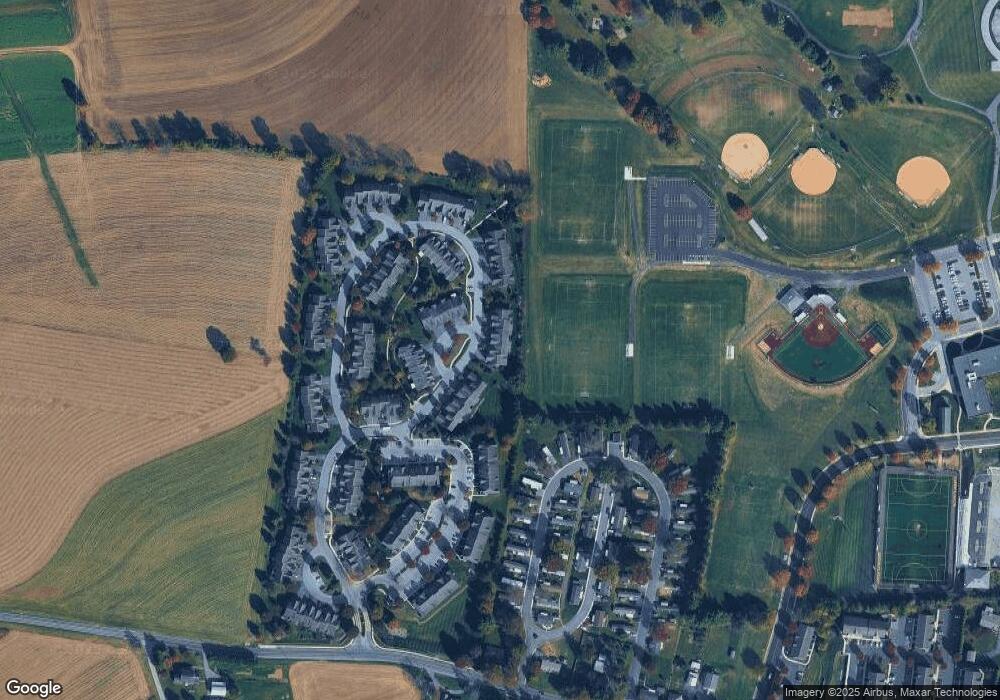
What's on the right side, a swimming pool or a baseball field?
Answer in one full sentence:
The one visible on the right side is a baseball field.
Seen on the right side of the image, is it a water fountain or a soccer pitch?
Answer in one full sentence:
The one visible on the right side of the image is a soccer pitch.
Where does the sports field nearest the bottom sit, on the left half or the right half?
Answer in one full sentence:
It is on the right.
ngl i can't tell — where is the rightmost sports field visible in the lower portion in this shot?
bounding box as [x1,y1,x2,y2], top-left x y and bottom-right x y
[874,469,961,589]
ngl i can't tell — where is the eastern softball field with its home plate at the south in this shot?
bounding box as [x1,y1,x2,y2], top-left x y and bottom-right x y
[841,130,984,212]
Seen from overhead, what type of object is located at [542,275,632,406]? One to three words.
soccer field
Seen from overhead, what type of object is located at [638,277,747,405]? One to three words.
soccer field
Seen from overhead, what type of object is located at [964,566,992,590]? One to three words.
building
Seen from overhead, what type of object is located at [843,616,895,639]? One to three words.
building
